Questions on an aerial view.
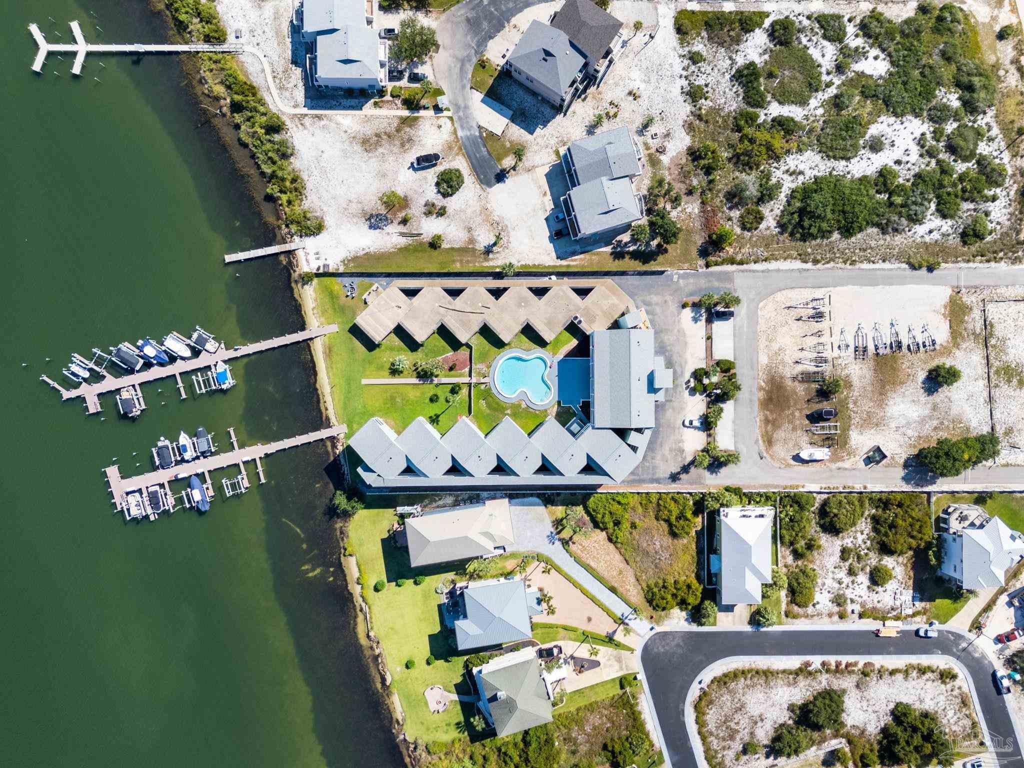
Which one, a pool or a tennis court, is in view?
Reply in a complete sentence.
Looking from above, you can make out a pool.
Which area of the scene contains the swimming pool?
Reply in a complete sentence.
The swimming pool appears toward the center of the photo.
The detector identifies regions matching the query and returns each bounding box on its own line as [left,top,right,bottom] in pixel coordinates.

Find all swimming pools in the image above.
[491,349,558,409]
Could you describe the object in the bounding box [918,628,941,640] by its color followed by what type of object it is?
white vehicle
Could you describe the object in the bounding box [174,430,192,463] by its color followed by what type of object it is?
white boat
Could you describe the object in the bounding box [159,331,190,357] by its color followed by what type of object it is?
white boat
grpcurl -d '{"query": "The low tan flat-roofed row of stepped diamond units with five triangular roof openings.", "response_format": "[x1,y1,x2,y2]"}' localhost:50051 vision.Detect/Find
[354,278,636,344]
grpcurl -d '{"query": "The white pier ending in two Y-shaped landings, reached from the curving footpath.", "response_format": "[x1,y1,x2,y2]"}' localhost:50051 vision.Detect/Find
[26,19,244,77]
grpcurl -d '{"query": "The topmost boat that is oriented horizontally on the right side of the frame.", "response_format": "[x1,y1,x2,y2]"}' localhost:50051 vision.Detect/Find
[807,408,843,420]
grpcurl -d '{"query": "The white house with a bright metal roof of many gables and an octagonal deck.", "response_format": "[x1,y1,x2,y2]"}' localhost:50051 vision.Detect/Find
[931,500,1024,589]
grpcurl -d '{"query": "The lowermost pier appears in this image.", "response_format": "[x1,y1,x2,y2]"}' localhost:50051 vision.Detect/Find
[100,425,347,520]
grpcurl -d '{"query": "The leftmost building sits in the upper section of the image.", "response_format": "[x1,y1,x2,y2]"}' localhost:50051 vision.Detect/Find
[288,0,391,91]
